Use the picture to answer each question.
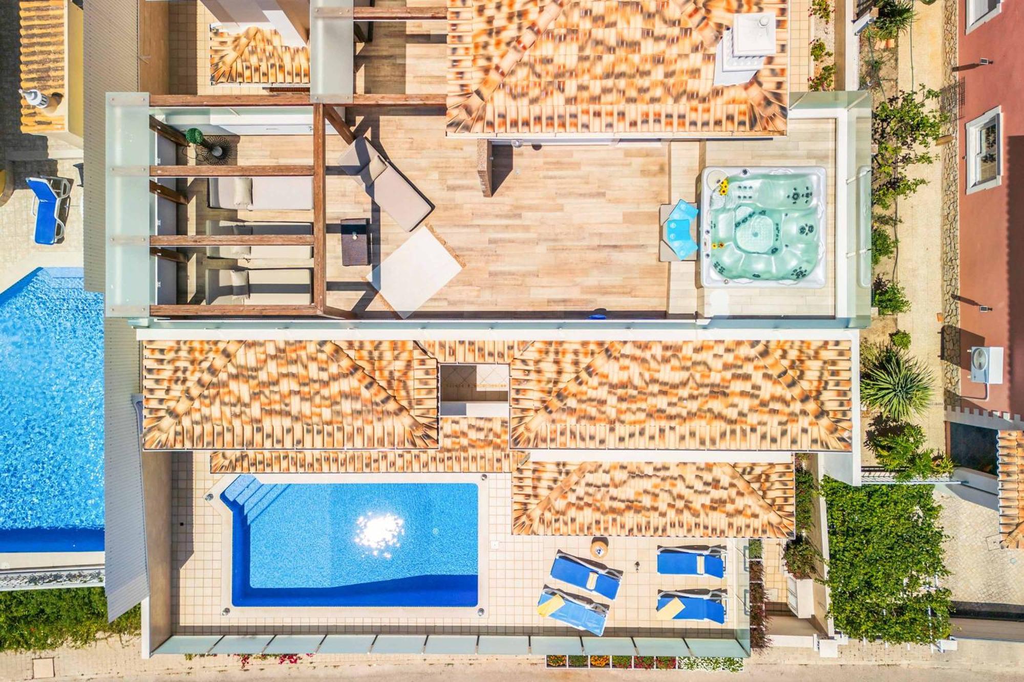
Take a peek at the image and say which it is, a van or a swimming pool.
swimming pool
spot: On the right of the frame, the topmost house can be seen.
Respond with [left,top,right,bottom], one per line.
[440,0,797,148]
